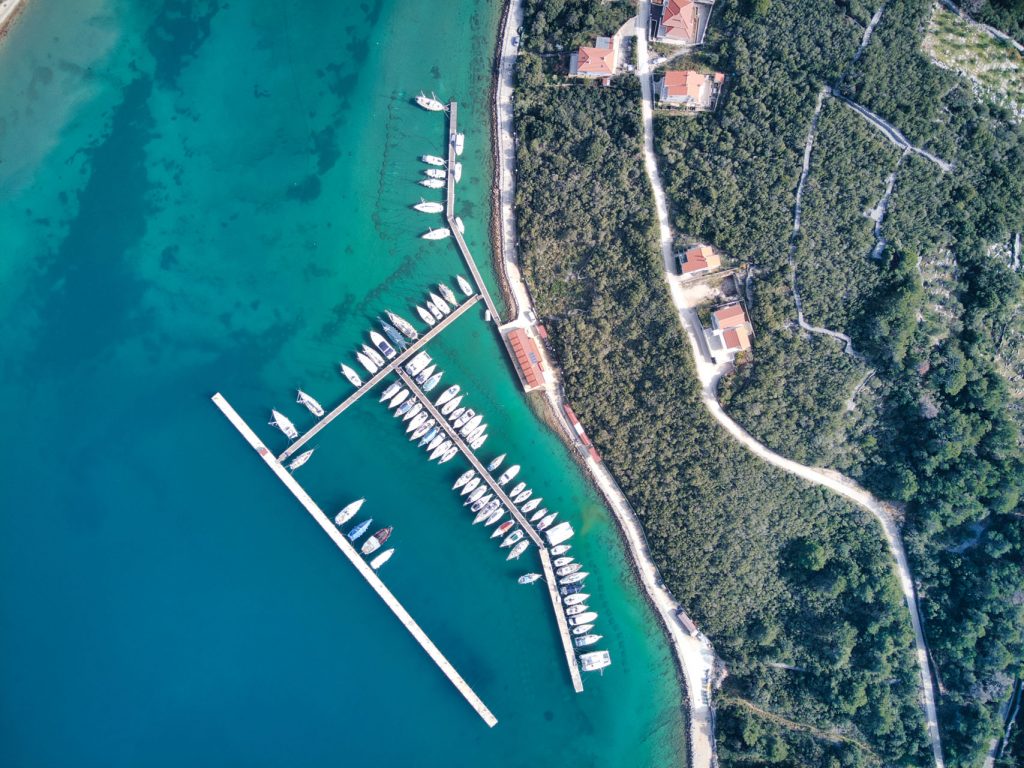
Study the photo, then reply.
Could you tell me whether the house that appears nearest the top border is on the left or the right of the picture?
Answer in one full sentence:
The house that appears nearest the top border is on the right side of the image.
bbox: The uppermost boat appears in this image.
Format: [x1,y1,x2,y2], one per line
[414,92,451,112]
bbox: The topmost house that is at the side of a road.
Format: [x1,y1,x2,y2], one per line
[657,0,700,46]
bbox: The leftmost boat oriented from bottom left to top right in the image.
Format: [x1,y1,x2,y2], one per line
[291,450,313,474]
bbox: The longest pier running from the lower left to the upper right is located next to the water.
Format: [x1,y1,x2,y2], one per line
[284,295,479,461]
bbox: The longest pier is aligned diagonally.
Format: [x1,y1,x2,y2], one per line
[211,392,498,727]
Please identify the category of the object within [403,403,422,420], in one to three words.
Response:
boat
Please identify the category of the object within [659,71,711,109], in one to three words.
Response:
house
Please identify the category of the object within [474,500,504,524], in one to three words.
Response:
boat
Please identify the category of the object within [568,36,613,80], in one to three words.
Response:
house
